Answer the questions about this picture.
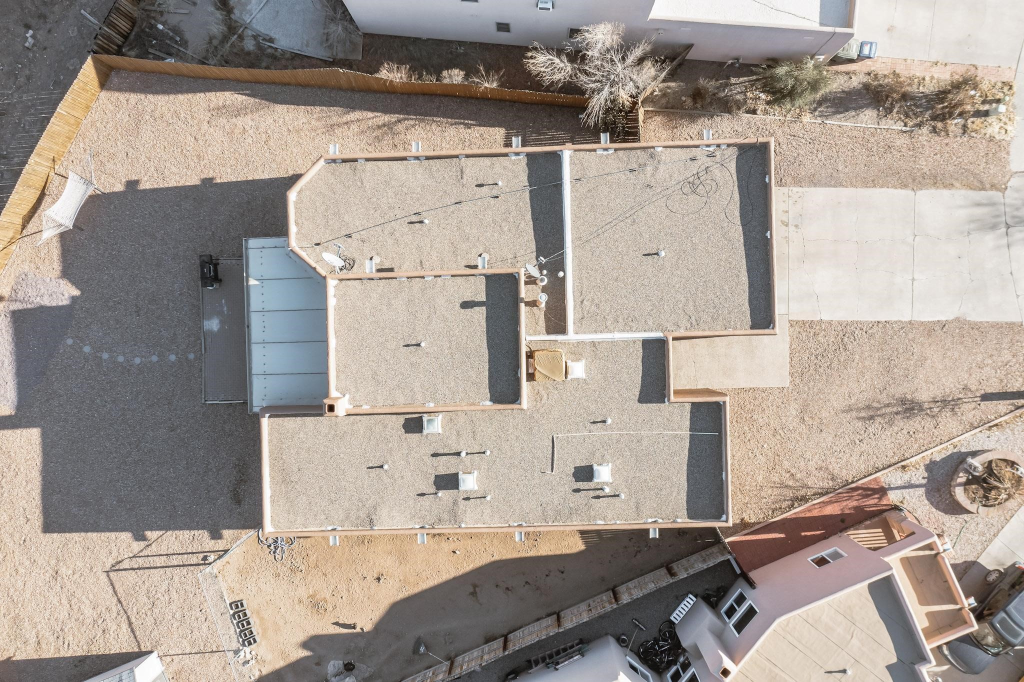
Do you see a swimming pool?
No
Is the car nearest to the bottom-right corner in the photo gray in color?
Yes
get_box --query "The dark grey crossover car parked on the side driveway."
[940,559,1024,670]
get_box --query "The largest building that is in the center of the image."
[261,128,777,546]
